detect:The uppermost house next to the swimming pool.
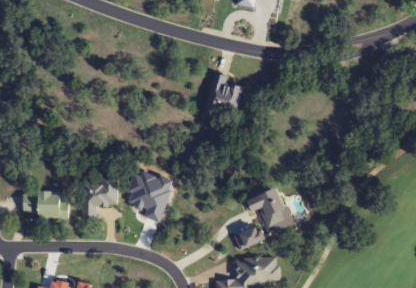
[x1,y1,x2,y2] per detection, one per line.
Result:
[246,187,294,232]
